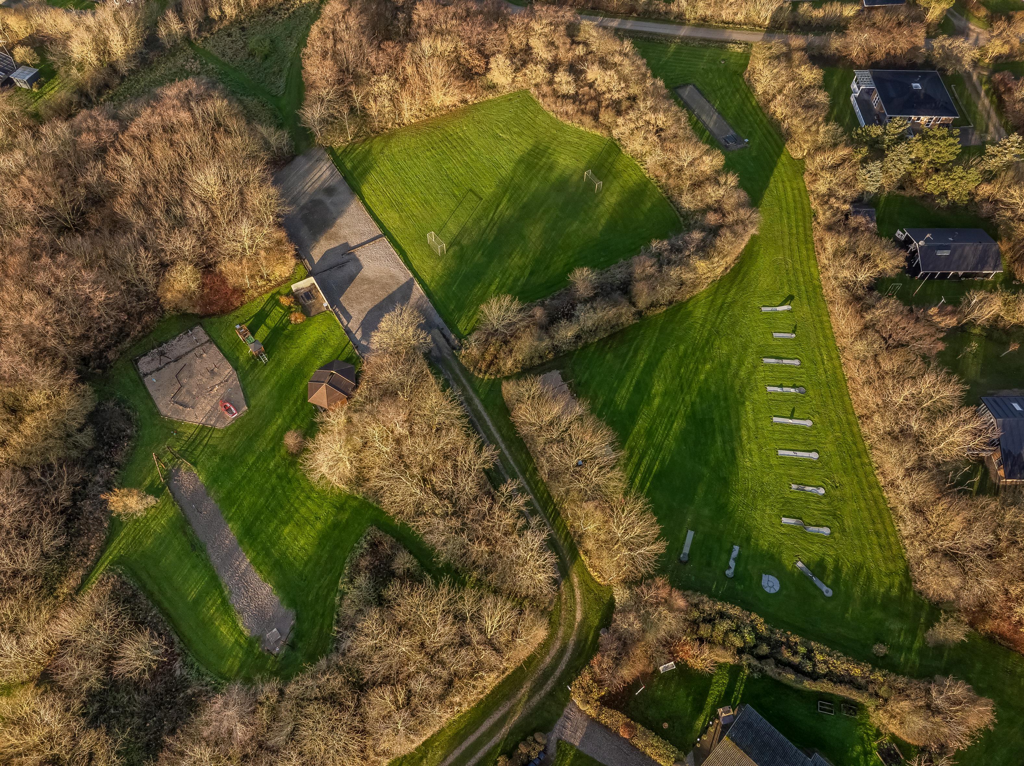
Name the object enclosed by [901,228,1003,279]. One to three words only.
house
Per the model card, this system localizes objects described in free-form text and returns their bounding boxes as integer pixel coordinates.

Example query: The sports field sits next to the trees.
[325,90,683,336]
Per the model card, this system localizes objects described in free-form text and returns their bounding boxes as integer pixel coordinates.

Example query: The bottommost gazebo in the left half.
[308,360,355,413]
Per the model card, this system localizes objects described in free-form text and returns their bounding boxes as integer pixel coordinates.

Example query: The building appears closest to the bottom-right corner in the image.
[701,703,829,766]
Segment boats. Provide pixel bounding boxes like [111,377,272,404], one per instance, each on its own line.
[219,399,237,418]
